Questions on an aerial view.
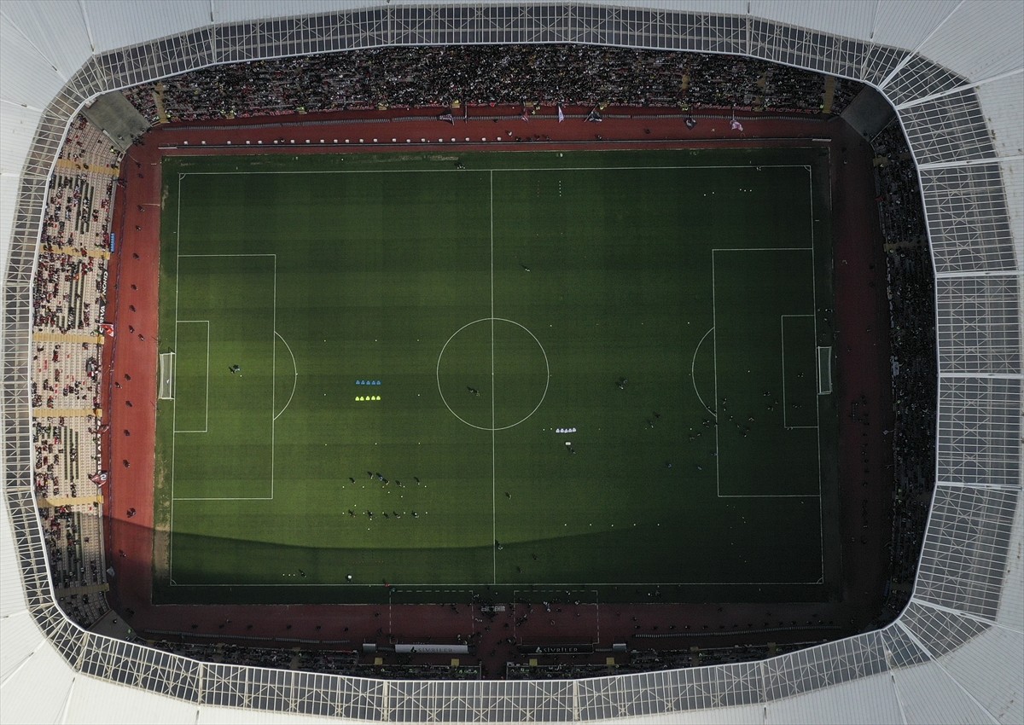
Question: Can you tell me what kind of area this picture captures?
sports ground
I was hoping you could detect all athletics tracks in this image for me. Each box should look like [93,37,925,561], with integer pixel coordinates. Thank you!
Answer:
[107,109,889,679]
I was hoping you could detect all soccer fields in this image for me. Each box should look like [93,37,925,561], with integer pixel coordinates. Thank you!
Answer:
[151,146,844,642]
